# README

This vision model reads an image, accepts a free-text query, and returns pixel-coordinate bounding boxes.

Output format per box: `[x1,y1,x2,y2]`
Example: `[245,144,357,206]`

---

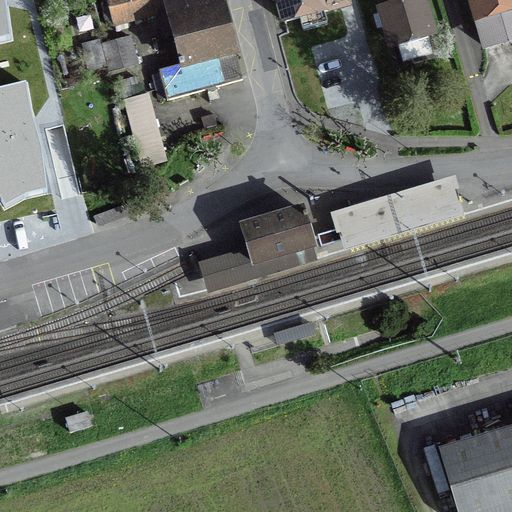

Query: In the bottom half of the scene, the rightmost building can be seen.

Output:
[438,424,512,512]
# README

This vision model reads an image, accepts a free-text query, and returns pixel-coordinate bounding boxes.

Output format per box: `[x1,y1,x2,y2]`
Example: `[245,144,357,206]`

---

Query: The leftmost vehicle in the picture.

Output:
[13,221,29,250]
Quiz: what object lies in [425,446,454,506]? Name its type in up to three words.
truck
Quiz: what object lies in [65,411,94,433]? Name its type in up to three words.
shed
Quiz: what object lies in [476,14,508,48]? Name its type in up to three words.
building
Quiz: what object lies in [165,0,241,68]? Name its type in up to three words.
house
